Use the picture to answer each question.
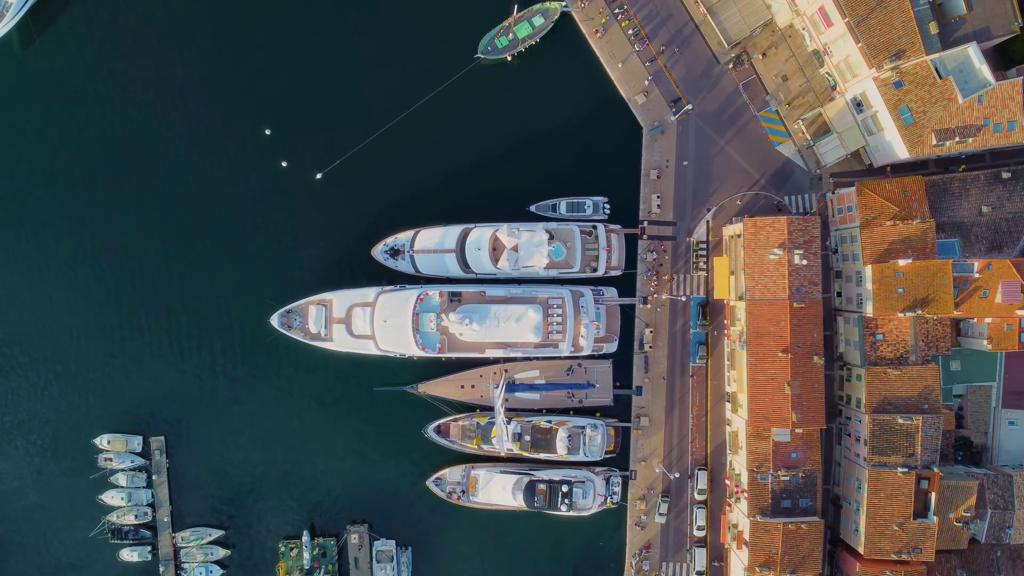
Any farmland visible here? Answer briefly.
No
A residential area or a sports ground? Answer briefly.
residential area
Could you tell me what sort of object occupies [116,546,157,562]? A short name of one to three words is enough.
boat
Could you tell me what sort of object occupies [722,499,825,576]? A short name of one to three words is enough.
house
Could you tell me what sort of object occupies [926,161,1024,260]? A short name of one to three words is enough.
house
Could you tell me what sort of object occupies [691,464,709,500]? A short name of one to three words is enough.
car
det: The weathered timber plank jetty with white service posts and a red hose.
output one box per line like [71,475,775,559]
[147,436,176,576]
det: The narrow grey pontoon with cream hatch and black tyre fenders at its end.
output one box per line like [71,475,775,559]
[347,520,373,576]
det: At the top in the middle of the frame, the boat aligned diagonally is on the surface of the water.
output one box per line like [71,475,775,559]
[473,1,566,60]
